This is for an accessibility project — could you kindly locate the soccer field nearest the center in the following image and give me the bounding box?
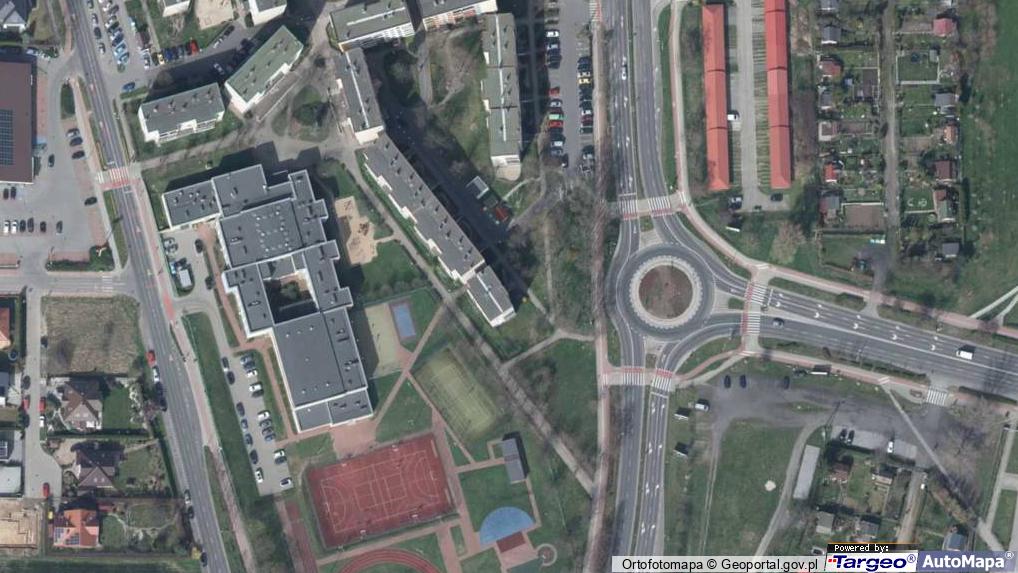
[413,348,503,444]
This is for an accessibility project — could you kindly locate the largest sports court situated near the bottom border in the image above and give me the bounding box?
[308,434,455,547]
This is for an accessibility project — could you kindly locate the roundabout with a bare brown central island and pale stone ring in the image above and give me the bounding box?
[605,218,748,376]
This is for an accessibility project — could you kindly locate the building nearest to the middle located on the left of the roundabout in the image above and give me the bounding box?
[462,266,514,329]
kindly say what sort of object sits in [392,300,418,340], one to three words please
basketball court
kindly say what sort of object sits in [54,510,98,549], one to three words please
house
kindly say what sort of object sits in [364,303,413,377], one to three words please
sports court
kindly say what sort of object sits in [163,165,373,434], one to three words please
building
